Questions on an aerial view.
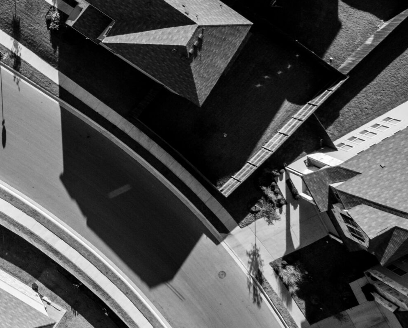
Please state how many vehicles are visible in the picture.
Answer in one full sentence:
No vehicles are visible.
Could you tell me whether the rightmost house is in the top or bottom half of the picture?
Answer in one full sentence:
The bottom half of the photo is where the rightmost house is.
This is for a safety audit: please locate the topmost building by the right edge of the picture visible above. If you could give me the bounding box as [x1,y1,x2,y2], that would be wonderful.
[294,104,408,262]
